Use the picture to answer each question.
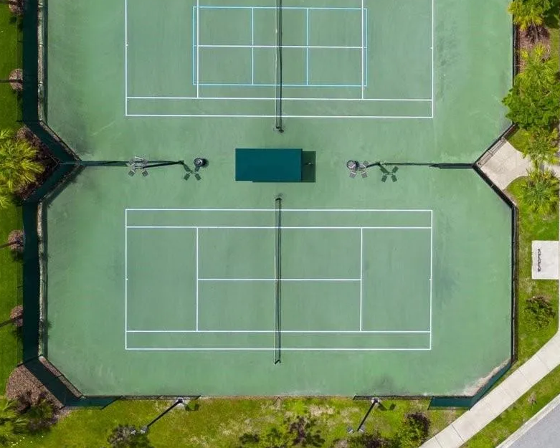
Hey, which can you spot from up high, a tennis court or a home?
tennis court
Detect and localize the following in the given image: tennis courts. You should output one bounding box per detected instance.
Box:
[43,162,513,395]
[43,0,514,162]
